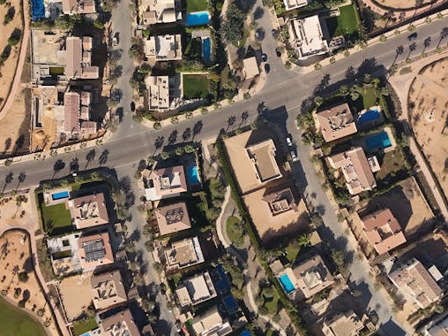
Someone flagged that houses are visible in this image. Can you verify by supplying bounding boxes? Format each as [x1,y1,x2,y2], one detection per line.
[264,183,307,217]
[90,265,130,311]
[43,86,99,135]
[248,136,281,182]
[57,36,102,81]
[150,74,179,109]
[143,0,182,24]
[321,305,376,336]
[192,304,235,336]
[73,190,110,229]
[292,253,334,298]
[316,103,358,141]
[156,199,191,235]
[78,227,115,266]
[53,0,98,14]
[429,309,448,336]
[141,164,188,201]
[360,207,406,254]
[284,0,314,10]
[290,17,343,61]
[326,143,382,191]
[100,303,142,336]
[167,233,205,269]
[385,250,447,308]
[146,35,182,61]
[177,267,216,308]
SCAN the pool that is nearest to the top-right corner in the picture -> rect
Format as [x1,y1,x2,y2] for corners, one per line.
[362,108,385,127]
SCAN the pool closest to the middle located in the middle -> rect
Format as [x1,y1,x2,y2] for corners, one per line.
[188,162,201,185]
